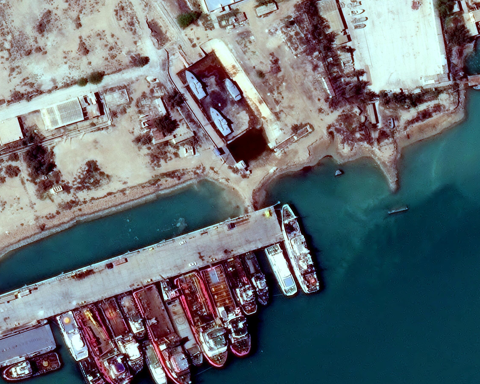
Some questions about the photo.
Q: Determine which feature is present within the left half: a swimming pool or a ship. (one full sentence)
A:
The feature located within the left half is a ship.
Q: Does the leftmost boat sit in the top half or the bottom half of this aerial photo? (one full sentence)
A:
It is in the bottom half that the leftmost boat appears.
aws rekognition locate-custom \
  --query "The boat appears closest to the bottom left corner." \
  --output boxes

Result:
[4,353,60,380]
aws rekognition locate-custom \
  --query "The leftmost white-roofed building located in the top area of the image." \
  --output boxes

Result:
[0,117,24,144]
